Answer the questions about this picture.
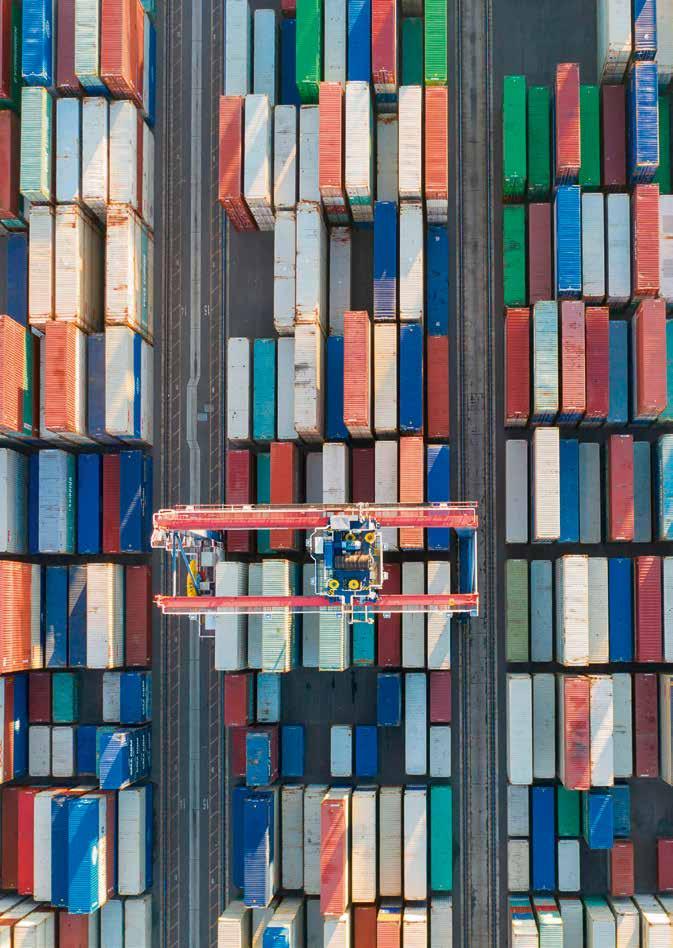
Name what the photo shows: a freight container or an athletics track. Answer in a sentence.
This aerial view contains a freight container.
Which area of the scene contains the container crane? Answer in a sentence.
The container crane sits in the center section of the image.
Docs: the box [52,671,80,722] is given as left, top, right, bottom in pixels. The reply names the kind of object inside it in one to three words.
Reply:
shipping container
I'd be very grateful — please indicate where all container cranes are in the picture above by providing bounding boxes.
[150,499,480,639]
